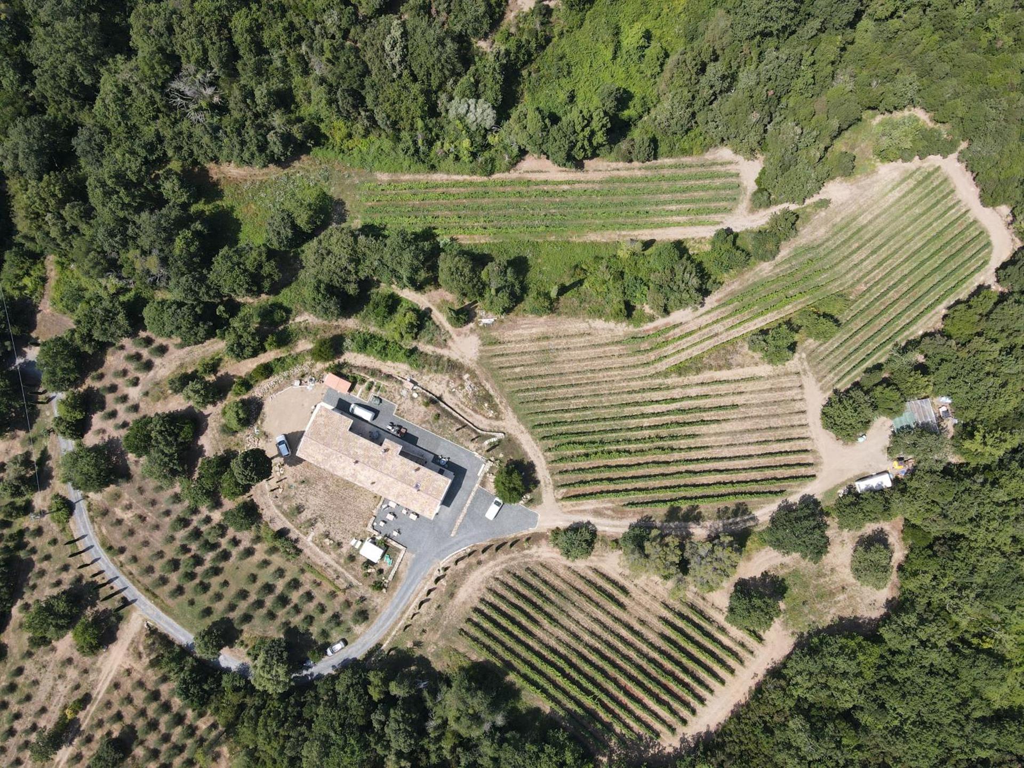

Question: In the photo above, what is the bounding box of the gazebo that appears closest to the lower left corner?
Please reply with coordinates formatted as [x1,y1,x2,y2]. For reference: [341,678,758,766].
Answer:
[360,539,385,562]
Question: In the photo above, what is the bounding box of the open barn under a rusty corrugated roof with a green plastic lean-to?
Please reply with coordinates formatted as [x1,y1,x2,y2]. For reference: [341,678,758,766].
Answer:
[888,398,940,433]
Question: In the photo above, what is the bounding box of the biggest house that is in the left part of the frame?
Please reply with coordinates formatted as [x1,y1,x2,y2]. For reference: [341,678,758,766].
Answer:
[299,404,455,516]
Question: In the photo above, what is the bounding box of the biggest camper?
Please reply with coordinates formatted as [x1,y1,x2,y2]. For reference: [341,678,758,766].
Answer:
[848,472,890,493]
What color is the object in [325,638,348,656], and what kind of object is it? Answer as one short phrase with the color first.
white car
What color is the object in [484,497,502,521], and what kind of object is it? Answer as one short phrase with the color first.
white vehicle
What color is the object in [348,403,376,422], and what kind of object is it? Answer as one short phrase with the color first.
white vehicle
